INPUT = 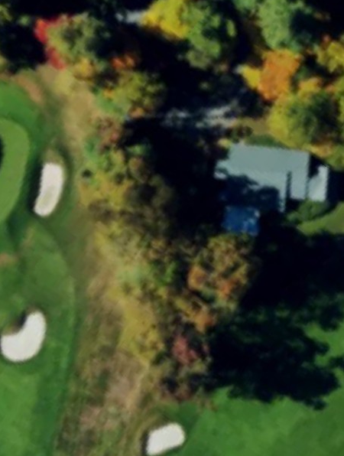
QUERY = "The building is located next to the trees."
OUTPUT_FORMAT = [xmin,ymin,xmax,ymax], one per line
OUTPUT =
[219,140,330,236]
